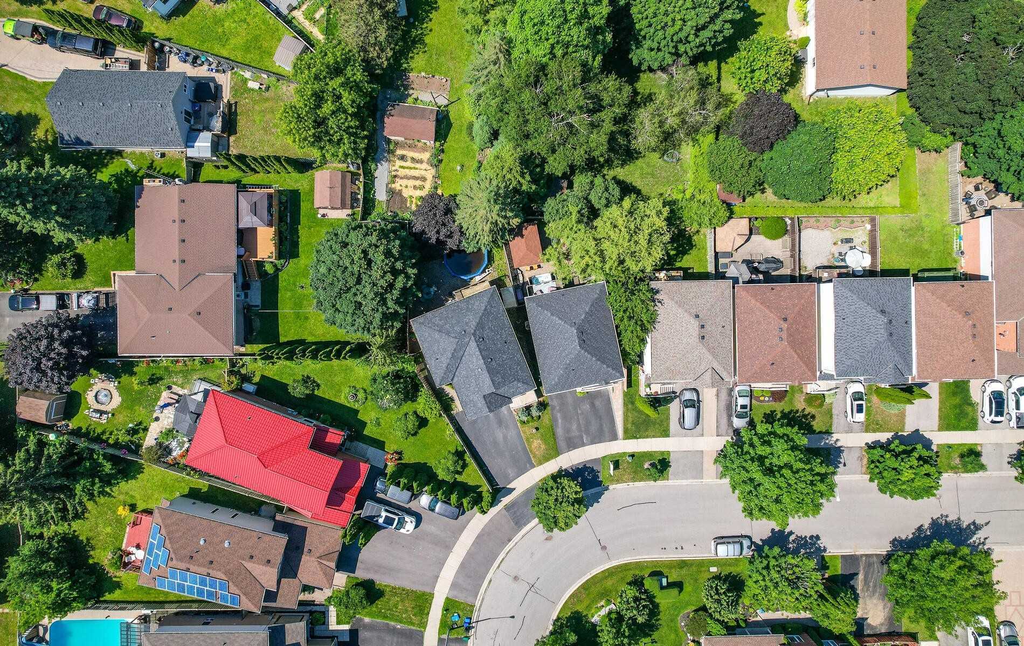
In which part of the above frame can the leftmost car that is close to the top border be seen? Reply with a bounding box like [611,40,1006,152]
[4,18,46,43]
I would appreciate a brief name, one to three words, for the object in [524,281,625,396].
house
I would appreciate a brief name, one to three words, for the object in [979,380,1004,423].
car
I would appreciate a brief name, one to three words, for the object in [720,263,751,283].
gazebo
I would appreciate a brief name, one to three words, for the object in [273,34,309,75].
shed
